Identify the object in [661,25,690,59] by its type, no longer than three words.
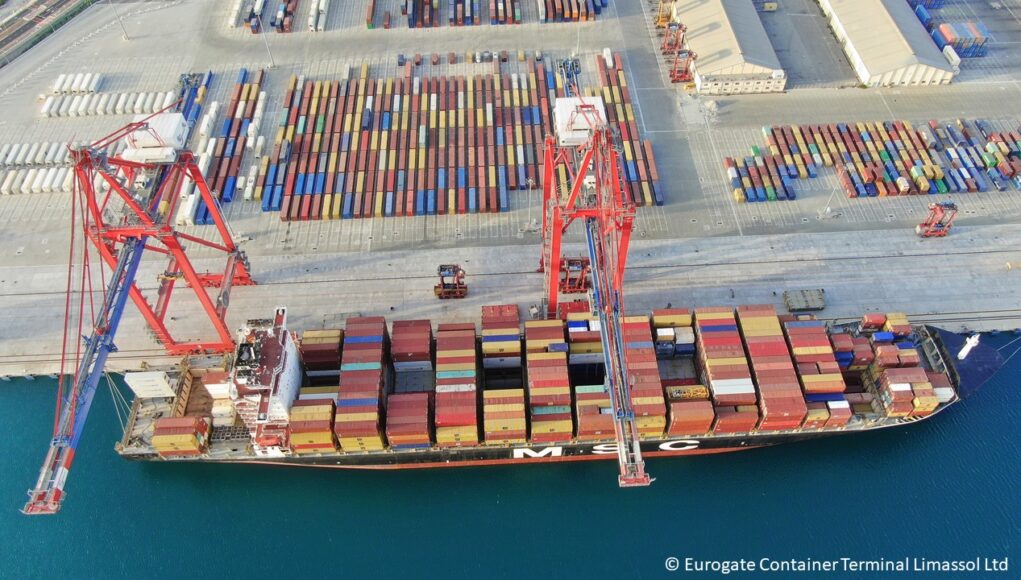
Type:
work vehicle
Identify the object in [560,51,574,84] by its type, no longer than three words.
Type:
vehicle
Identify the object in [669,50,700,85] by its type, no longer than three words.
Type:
work vehicle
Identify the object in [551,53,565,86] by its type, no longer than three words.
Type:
vehicle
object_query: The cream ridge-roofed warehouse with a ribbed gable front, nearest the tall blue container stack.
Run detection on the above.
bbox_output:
[822,0,955,87]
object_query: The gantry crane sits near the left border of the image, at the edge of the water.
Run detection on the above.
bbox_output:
[28,109,262,509]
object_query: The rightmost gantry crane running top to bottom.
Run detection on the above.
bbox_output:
[533,95,651,480]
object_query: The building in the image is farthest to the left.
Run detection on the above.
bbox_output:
[674,0,788,96]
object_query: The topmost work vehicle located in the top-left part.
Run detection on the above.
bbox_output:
[178,70,199,98]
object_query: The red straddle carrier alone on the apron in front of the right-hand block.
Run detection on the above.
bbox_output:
[918,201,964,236]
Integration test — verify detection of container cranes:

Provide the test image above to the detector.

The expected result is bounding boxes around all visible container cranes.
[533,95,651,480]
[28,109,262,509]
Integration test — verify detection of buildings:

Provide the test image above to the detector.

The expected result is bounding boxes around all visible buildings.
[822,0,955,87]
[674,0,788,96]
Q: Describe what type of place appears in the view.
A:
port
